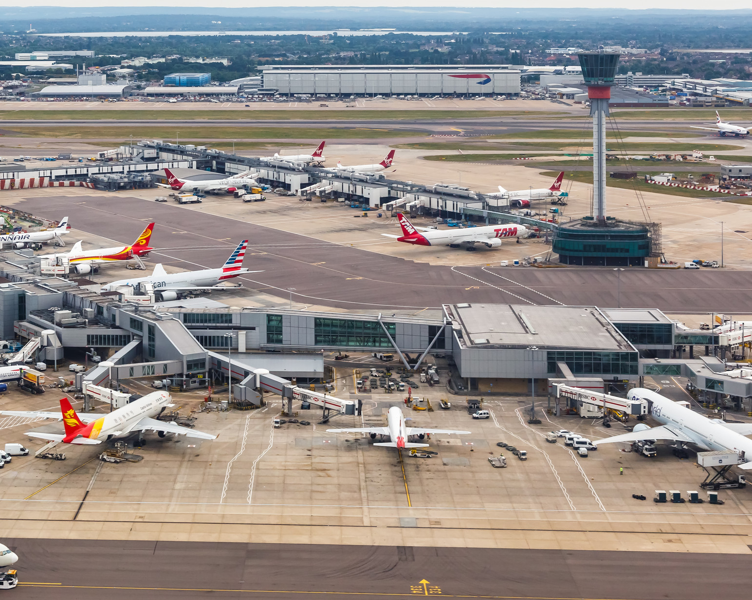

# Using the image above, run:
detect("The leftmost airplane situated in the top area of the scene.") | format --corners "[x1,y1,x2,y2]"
[1,223,79,254]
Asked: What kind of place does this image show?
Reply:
airport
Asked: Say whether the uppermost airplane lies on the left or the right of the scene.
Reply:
right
